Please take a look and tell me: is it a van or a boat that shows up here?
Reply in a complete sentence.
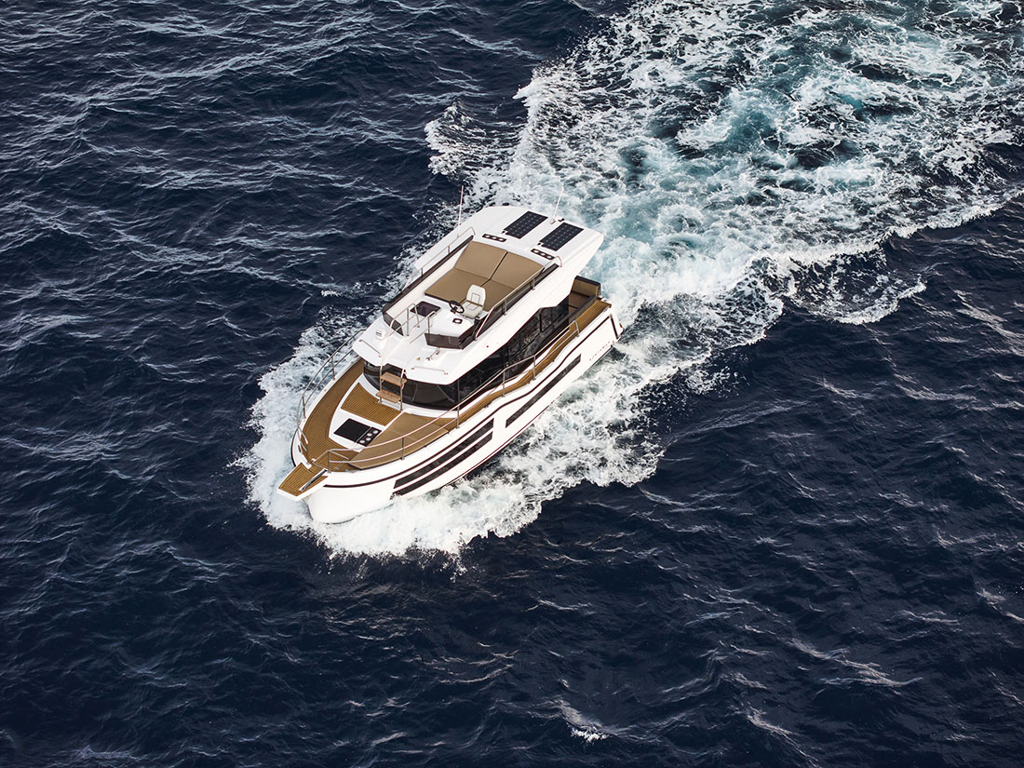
There is a boat in the scene.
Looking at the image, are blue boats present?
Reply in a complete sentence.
No, the picture doesn't show any blue boat.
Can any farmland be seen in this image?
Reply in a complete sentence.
No, there is no farmland in the image.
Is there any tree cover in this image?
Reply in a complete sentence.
No, there is no tree cover in the image.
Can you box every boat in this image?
[276,185,624,525]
